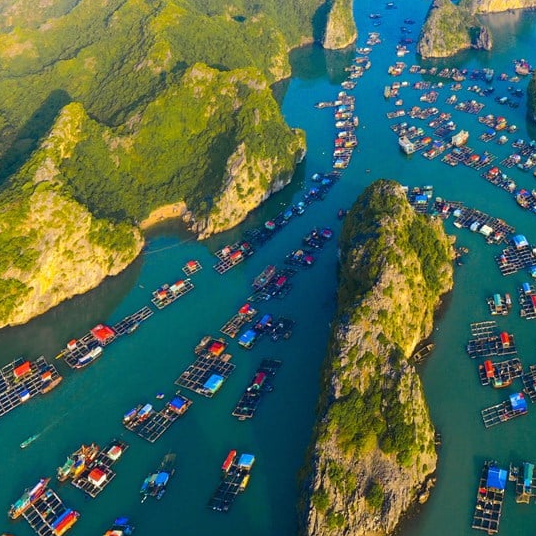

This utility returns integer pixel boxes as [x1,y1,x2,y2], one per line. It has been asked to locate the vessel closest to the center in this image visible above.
[252,262,278,286]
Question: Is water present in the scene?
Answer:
Yes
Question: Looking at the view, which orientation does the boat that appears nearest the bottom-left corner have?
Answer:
at an angle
